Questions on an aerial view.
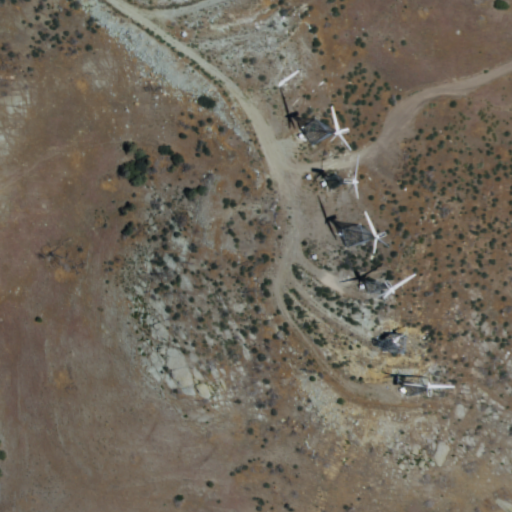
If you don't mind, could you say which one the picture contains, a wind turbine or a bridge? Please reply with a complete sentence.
Looking from above, you can make out a wind turbine.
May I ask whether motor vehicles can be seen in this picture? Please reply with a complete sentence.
No, no motor vehicle is visible in the scene.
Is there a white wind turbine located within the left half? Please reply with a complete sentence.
No, the scene shows no white wind turbine within the left half.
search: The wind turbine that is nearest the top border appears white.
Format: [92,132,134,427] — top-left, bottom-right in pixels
[302,106,349,150]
